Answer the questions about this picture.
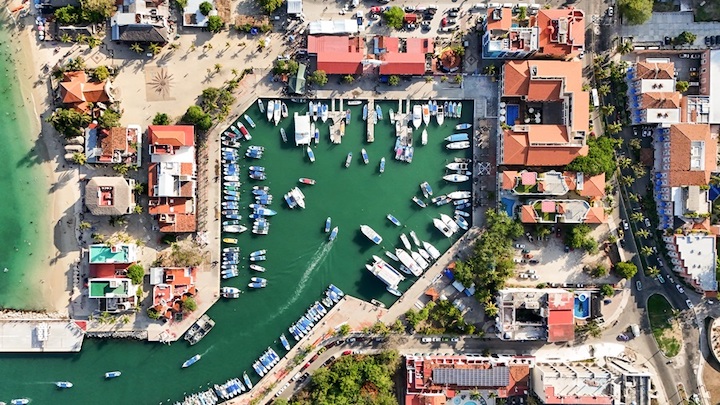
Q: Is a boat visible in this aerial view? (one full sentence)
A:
Yes, there is a boat in the image.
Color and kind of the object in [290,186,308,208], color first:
white boat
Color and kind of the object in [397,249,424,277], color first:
white boat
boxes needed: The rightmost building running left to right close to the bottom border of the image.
[531,354,657,405]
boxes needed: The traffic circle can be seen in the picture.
[648,292,683,359]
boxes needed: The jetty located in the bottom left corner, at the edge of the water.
[0,318,87,353]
